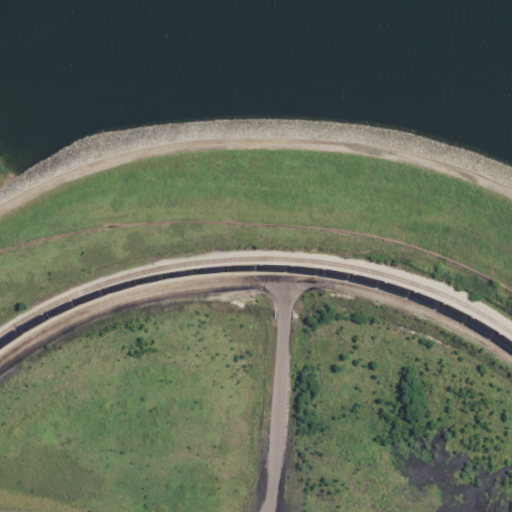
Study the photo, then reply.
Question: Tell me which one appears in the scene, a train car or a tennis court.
train car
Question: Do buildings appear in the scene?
No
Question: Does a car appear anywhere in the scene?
No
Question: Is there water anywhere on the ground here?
Yes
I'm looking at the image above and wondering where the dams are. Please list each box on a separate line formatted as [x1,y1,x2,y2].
[0,118,512,288]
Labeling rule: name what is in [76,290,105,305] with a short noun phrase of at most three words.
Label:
rail car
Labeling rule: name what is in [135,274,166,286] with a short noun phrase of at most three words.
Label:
rail car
